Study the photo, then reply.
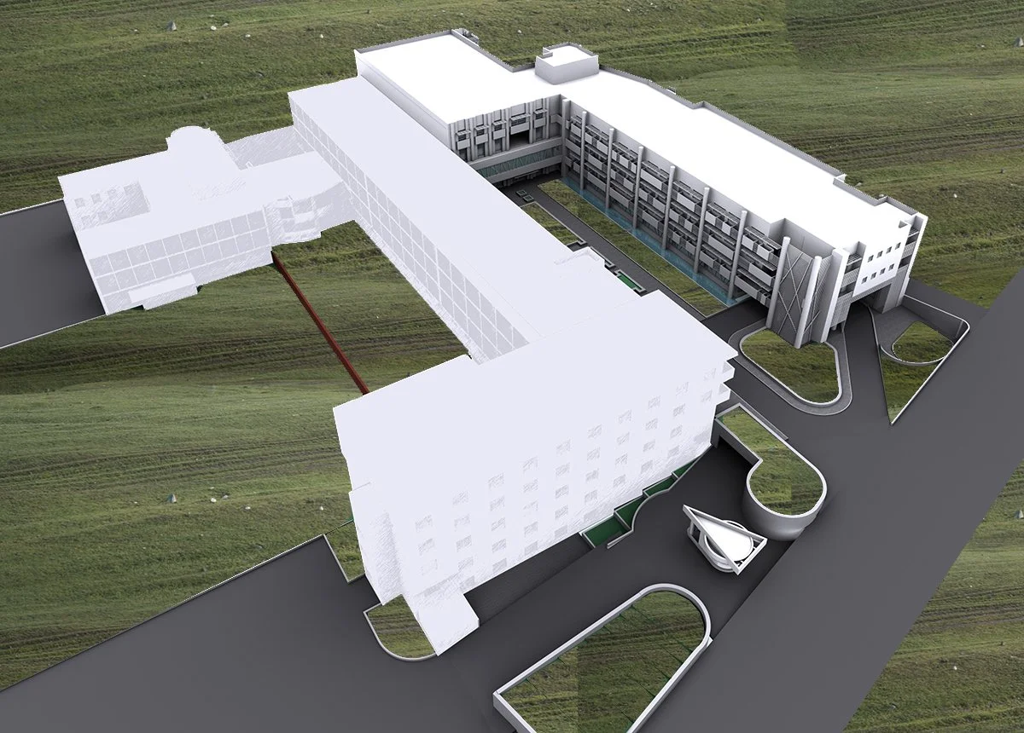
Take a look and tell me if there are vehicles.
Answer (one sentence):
No, this view has no vehicle in it.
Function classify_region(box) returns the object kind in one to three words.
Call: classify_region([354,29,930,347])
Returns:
building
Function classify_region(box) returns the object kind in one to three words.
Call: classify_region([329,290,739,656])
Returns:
building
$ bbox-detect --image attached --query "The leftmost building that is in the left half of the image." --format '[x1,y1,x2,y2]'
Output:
[57,128,276,314]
